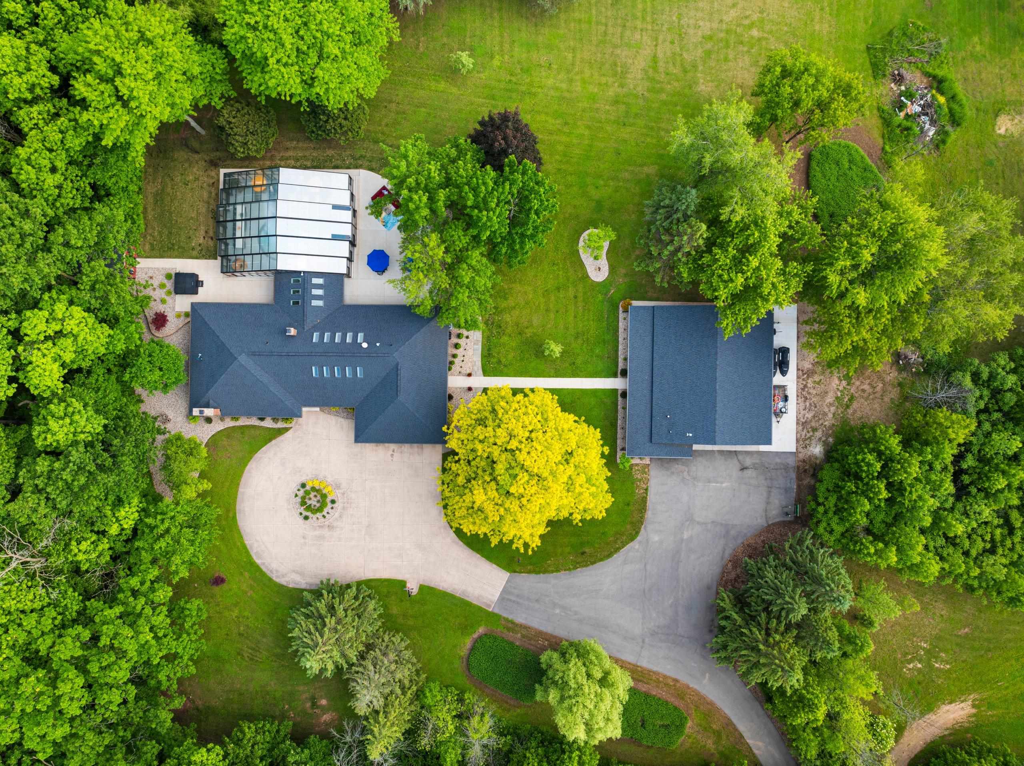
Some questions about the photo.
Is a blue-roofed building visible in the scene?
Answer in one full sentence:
Yes, the frame does contain a blue-roofed building.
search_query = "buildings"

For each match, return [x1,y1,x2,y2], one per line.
[625,305,775,459]
[188,270,450,446]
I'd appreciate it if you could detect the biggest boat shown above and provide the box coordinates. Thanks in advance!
[777,346,789,377]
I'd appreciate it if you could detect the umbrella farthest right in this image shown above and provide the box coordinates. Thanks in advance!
[367,249,390,272]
